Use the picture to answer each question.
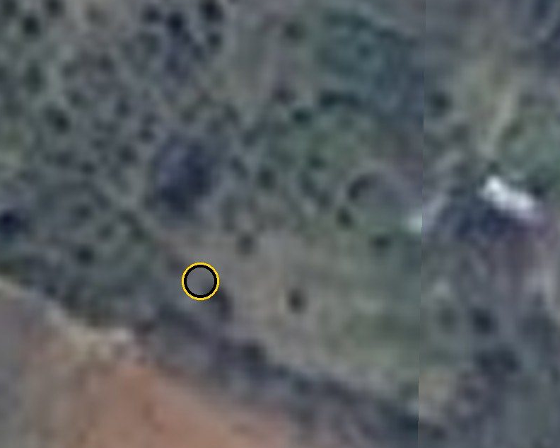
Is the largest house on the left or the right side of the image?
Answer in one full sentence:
It is on the right.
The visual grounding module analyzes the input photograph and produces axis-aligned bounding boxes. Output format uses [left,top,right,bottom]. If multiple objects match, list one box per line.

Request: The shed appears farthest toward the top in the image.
[483,175,542,216]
